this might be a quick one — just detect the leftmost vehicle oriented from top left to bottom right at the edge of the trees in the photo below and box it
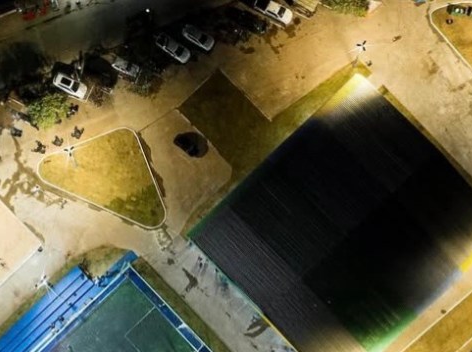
[51,69,88,99]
